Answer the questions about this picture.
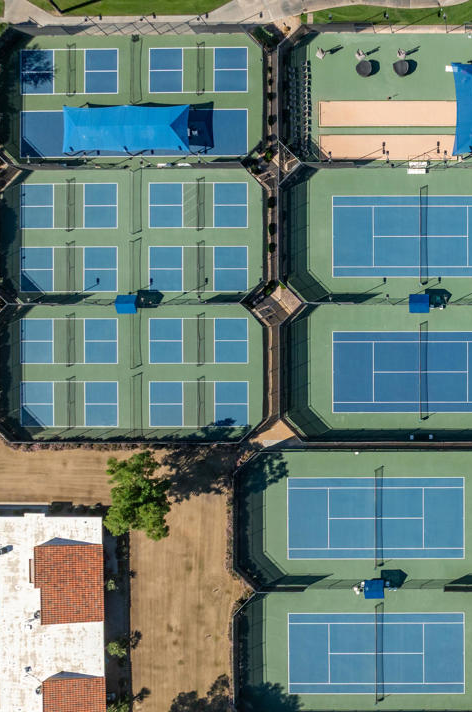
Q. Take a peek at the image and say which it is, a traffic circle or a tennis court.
tennis court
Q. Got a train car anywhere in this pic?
No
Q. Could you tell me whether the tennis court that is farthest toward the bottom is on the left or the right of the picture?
right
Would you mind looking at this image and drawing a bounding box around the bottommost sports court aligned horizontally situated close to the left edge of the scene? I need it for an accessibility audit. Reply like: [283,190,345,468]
[21,382,118,427]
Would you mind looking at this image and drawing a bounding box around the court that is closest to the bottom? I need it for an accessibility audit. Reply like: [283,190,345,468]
[240,585,472,712]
